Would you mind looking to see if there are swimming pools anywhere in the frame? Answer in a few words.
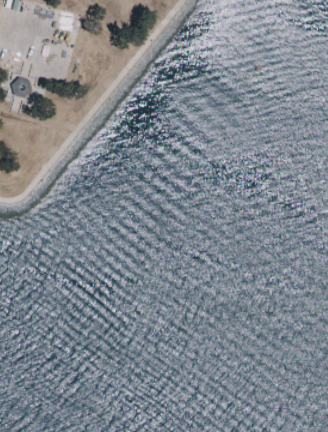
No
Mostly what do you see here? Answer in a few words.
water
